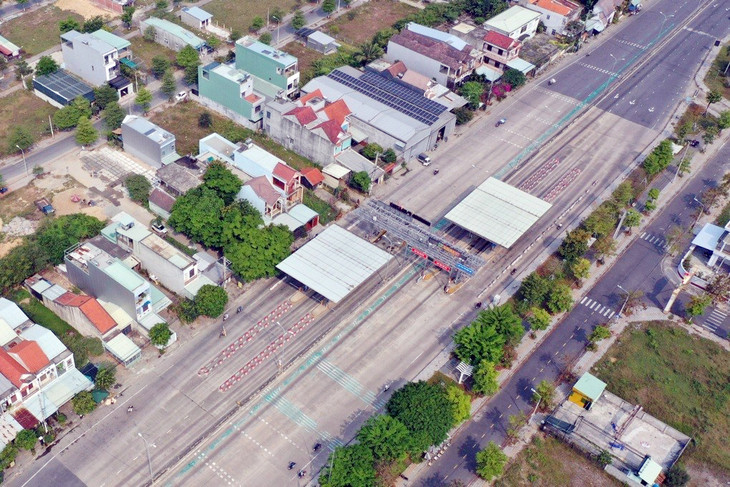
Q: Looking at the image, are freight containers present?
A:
No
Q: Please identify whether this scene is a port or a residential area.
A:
residential area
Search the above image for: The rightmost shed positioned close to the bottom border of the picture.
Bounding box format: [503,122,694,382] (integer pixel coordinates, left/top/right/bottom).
[632,456,664,487]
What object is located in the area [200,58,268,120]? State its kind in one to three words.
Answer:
house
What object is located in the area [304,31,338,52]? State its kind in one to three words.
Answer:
shed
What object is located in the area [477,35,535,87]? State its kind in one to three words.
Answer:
house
